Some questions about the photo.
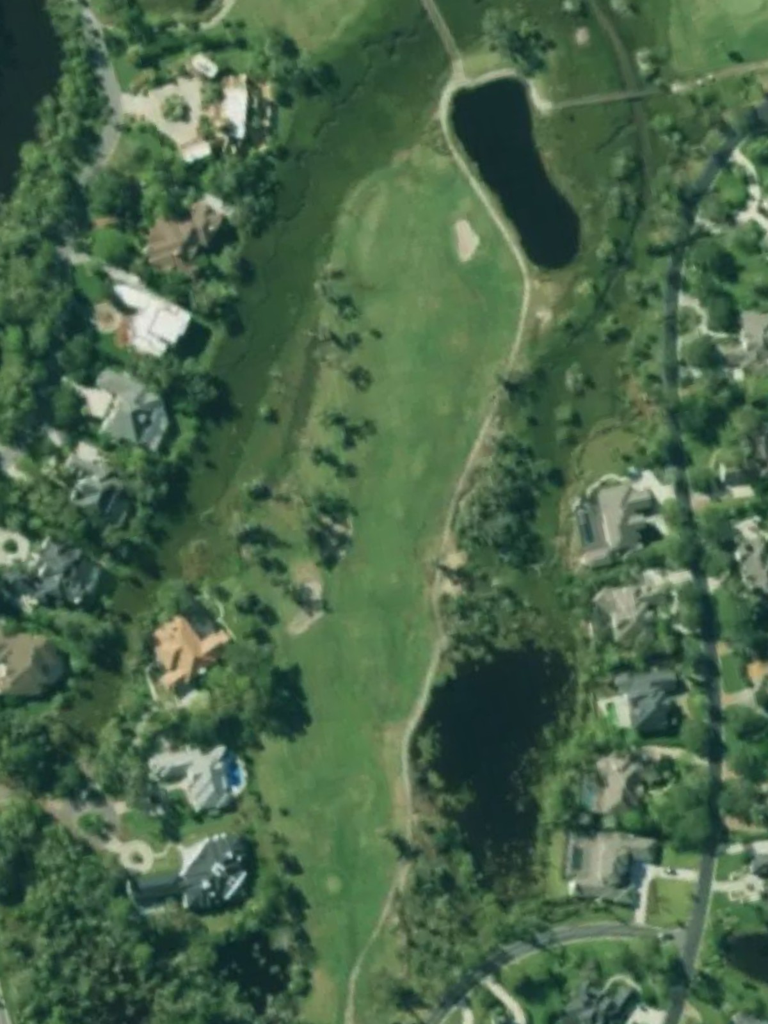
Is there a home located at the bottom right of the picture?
Yes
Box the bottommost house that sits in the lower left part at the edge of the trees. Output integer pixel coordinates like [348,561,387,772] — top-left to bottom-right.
[132,830,254,913]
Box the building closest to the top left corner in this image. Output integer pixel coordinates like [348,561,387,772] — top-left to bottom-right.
[188,49,221,79]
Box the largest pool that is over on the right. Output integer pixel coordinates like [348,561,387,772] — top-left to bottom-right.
[580,508,596,544]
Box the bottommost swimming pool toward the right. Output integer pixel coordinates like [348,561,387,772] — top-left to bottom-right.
[571,847,583,869]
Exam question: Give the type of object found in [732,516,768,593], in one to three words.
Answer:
house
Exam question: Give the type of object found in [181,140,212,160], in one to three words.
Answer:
building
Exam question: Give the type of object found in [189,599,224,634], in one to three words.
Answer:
swimming pool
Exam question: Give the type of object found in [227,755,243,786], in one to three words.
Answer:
swimming pool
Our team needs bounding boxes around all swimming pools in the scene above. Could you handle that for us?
[227,755,243,786]
[606,702,620,729]
[580,508,596,544]
[189,599,224,634]
[571,847,583,869]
